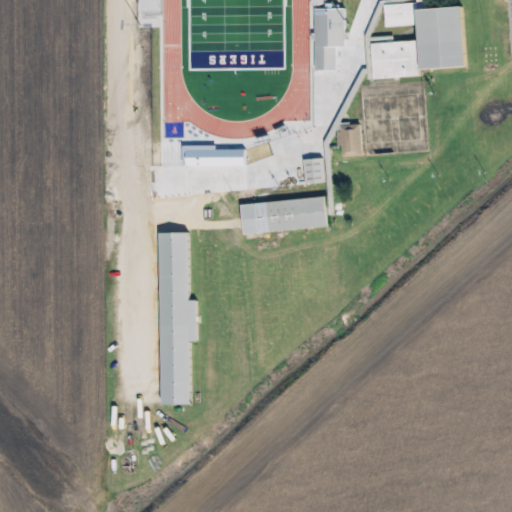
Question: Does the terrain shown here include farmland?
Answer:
Yes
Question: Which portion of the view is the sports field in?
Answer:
top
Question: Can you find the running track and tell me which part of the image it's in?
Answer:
top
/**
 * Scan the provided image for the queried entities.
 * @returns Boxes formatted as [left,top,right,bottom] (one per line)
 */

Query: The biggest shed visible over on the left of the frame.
[158,232,198,404]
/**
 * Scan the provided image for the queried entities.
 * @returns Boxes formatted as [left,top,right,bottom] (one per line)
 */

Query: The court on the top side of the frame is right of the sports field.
[362,82,429,154]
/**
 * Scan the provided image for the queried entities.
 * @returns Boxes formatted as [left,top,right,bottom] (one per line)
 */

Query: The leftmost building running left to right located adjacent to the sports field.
[184,150,247,166]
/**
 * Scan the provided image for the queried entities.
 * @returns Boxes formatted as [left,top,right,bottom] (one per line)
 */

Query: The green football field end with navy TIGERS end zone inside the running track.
[182,0,292,122]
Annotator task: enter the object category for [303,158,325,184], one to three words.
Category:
building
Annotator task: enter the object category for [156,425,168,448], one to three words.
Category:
vehicle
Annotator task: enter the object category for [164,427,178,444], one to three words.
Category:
vehicle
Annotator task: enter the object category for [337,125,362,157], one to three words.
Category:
house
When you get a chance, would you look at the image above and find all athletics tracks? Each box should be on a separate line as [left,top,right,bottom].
[165,0,310,140]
